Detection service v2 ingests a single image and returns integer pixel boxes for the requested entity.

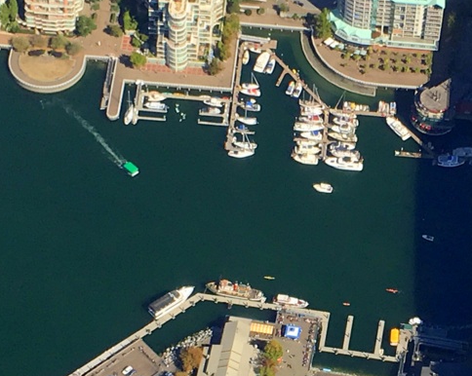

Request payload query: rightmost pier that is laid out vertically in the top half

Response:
[319,104,341,161]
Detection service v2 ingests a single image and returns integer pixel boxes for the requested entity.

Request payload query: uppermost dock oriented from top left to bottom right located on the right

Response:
[269,42,310,88]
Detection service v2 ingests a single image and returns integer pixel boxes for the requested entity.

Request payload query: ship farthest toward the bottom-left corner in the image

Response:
[149,283,197,314]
